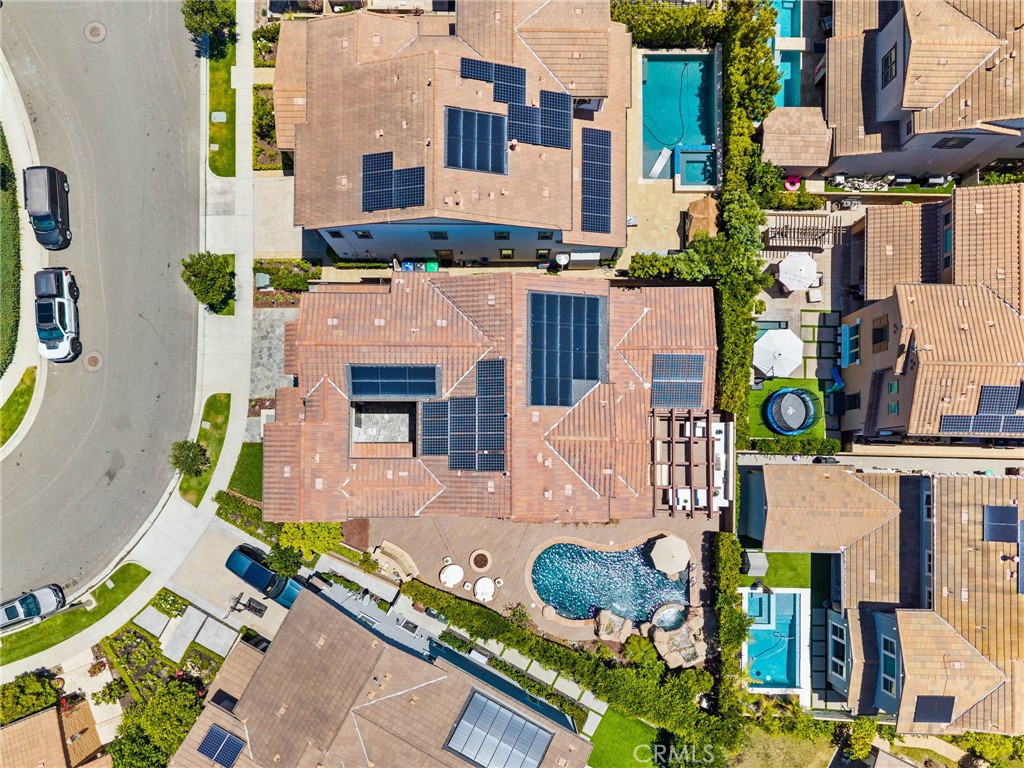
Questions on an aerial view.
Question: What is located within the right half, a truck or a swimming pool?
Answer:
swimming pool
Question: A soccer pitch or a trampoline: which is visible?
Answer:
trampoline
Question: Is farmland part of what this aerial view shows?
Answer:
No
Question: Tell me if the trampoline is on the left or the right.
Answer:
right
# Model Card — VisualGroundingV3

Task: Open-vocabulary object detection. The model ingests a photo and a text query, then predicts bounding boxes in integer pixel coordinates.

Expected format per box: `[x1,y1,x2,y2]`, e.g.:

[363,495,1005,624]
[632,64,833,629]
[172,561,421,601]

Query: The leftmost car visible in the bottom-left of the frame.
[0,581,69,634]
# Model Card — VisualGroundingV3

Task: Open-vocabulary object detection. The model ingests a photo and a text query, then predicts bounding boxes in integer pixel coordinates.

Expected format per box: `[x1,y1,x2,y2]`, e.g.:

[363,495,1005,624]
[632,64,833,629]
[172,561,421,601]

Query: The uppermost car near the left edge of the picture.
[22,167,72,249]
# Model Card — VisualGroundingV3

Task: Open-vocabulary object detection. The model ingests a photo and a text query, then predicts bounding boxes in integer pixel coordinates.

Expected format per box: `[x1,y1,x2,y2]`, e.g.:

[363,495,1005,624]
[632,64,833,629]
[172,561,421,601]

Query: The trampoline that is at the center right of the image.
[756,385,819,439]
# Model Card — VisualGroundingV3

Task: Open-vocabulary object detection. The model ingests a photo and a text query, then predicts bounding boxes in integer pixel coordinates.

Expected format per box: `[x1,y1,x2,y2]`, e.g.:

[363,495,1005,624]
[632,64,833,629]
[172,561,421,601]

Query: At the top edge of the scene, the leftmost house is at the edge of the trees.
[273,0,632,259]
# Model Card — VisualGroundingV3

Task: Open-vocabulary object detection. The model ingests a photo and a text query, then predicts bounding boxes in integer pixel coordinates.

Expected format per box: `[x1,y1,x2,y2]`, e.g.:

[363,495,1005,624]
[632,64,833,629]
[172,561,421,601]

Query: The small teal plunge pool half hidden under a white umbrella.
[756,319,790,338]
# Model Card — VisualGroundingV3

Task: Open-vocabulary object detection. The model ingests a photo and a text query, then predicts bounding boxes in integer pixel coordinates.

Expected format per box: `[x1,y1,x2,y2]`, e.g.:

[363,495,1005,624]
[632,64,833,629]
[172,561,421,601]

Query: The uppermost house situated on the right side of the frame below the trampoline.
[749,466,1024,737]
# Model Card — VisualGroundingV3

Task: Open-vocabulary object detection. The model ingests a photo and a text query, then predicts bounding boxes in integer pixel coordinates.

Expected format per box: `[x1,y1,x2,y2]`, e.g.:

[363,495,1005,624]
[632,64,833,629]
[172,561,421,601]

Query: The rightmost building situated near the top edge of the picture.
[824,0,1024,176]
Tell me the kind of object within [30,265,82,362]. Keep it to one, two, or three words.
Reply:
truck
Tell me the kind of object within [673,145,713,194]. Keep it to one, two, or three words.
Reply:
swimming pool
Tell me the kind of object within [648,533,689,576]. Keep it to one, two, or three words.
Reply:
umbrella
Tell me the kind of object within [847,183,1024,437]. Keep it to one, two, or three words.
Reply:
house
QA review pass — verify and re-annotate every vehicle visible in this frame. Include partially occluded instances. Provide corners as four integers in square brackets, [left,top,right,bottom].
[30,265,82,362]
[22,167,72,249]
[0,581,69,634]
[271,0,303,13]
[220,548,312,616]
